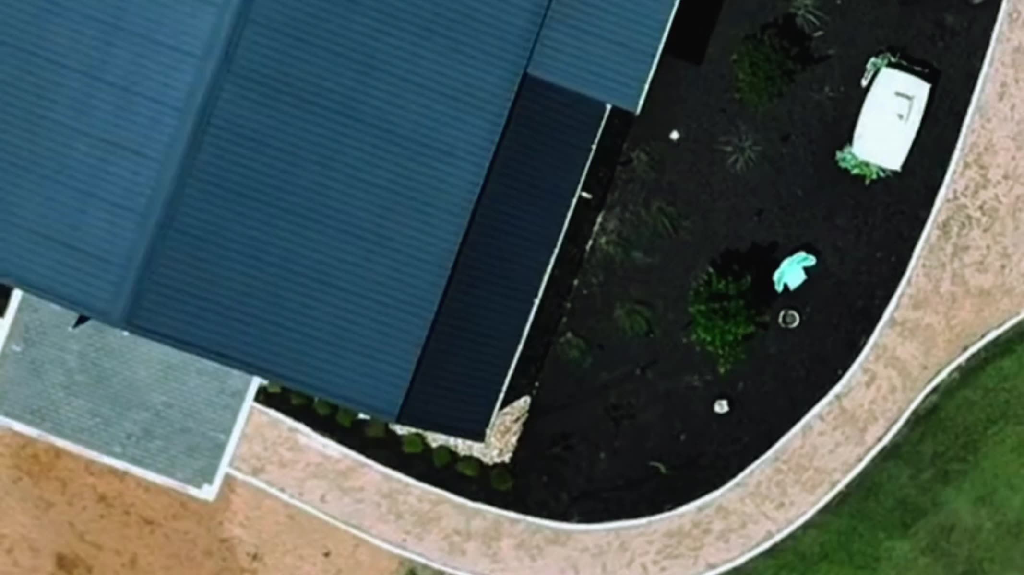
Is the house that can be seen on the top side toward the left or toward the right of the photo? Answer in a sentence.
The house that can be seen on the top side is on the left side of the image.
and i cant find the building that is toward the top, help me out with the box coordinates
[0,0,681,440]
